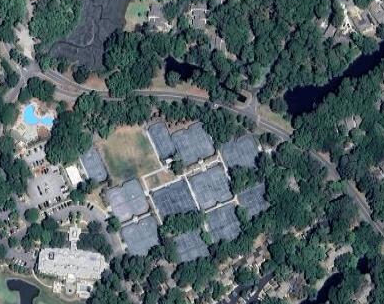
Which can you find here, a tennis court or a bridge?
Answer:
tennis court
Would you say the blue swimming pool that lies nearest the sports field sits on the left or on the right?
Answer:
left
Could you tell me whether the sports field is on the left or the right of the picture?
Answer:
left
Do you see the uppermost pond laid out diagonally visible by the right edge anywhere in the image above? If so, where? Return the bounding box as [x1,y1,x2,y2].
[286,42,384,113]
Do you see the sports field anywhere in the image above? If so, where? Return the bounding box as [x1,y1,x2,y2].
[103,125,162,185]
